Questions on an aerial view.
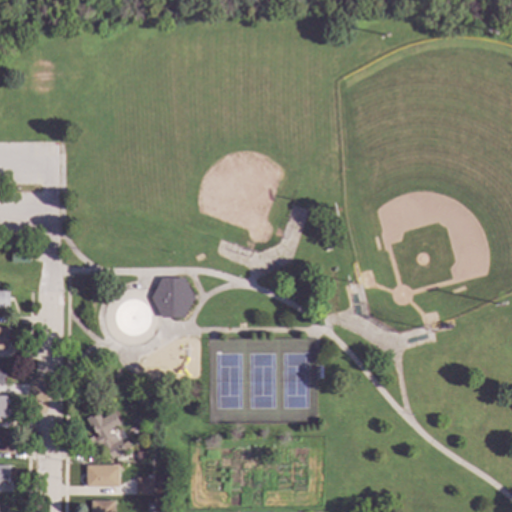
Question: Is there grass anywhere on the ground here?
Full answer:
Yes, there is grass in the image.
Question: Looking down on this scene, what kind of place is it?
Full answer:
What you see here is a sports ground.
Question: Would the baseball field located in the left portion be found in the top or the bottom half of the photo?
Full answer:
The top half of the photo is where the baseball field located in the left portion is.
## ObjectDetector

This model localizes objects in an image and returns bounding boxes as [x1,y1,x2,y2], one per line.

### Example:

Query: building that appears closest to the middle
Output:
[152,277,197,319]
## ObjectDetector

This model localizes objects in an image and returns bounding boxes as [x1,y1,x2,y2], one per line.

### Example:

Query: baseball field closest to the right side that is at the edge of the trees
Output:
[332,40,512,331]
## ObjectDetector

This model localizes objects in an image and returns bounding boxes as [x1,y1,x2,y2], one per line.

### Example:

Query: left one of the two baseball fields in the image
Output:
[69,30,337,248]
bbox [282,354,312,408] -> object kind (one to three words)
tennis court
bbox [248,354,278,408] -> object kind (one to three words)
tennis court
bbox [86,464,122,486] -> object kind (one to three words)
house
